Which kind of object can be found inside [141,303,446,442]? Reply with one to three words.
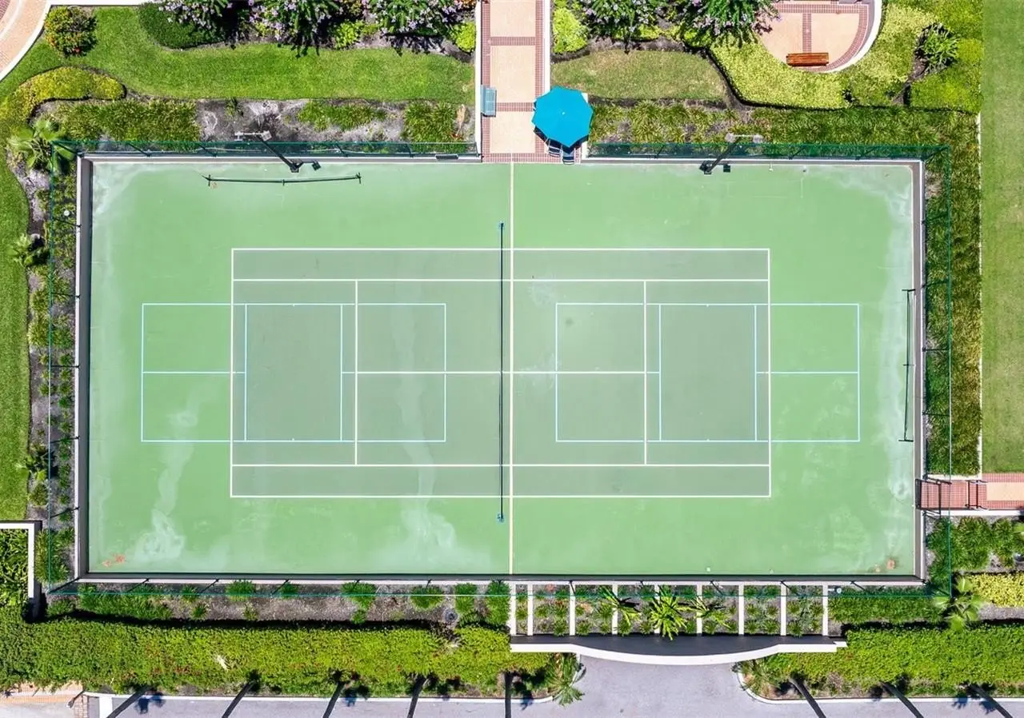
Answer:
sports court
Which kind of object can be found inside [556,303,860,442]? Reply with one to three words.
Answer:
sports court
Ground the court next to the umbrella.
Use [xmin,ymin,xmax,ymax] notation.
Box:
[88,153,915,574]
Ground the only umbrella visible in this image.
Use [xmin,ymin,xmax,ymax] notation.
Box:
[533,87,593,146]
